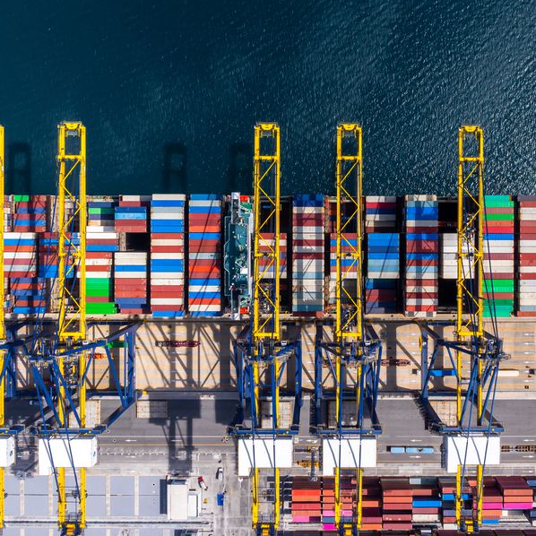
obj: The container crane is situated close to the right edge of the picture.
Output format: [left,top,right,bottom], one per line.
[417,121,512,535]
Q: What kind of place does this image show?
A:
port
